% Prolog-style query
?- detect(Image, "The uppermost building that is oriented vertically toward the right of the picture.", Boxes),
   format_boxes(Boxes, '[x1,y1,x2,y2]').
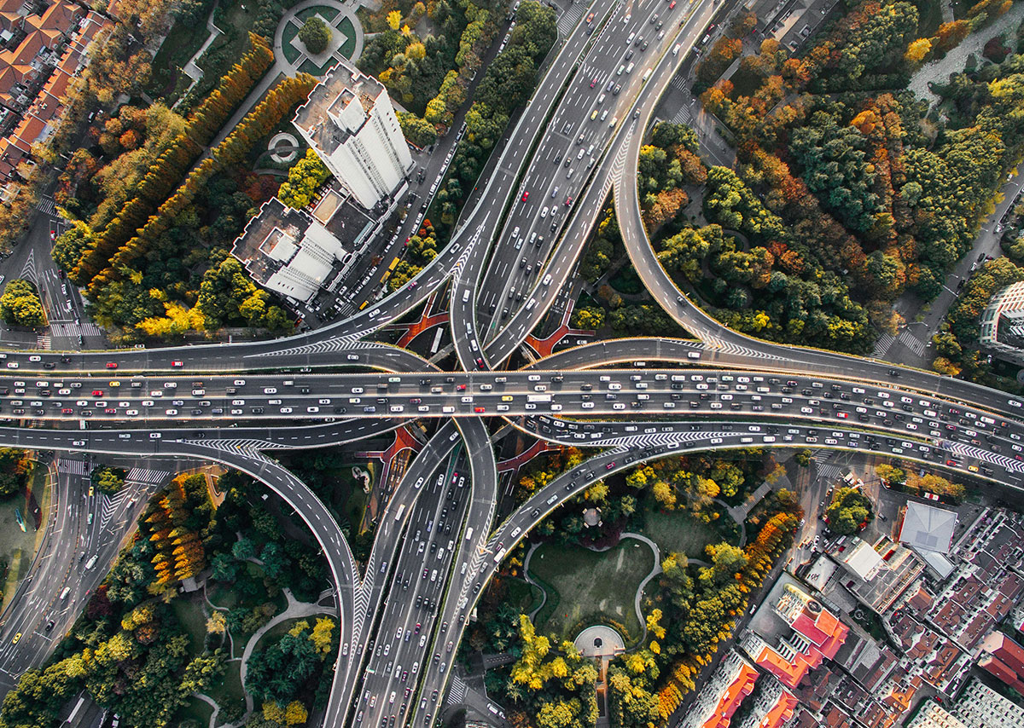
[983,281,1024,376]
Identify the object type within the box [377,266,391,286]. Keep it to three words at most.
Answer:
vehicle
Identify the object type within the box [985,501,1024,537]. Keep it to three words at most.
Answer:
house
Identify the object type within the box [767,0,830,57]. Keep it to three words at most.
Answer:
building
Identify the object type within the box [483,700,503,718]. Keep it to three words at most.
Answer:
vehicle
